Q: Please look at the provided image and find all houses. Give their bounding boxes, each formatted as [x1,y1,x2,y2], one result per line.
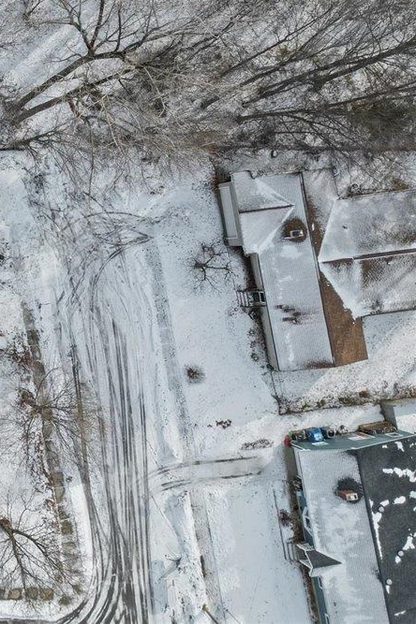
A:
[205,168,416,371]
[283,427,416,624]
